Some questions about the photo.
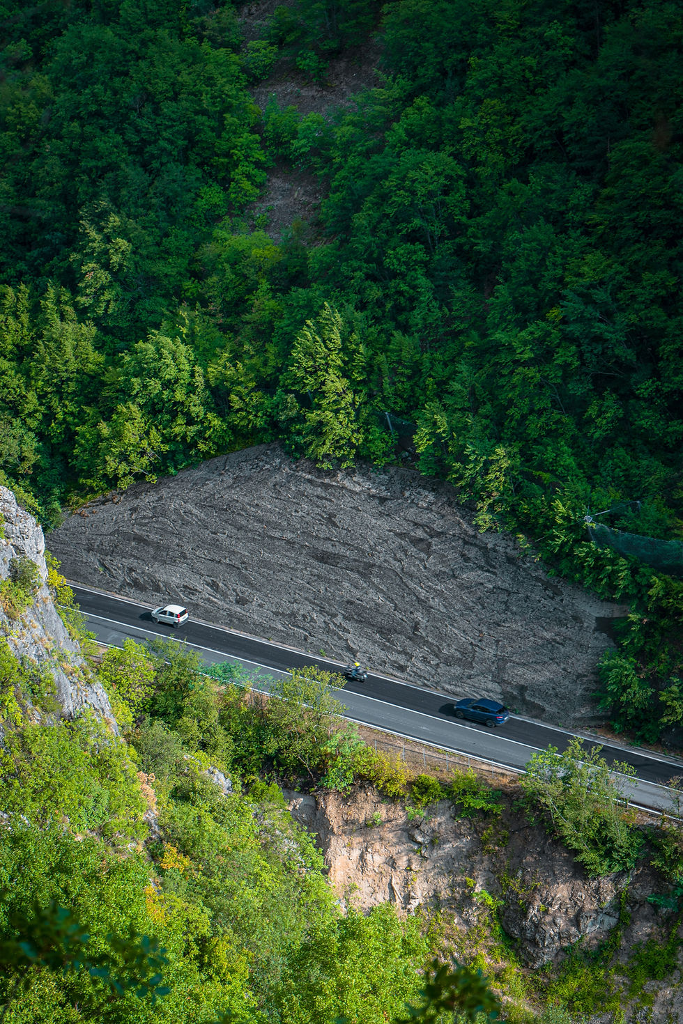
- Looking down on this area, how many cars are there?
2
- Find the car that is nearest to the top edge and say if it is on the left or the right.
left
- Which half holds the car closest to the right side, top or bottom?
bottom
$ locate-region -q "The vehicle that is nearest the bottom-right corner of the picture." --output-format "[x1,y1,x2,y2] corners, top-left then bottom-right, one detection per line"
[452,697,508,728]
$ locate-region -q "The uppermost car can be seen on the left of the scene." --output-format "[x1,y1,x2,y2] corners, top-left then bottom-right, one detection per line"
[152,606,189,629]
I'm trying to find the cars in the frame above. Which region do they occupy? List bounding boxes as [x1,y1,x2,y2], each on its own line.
[452,697,508,728]
[152,606,189,629]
